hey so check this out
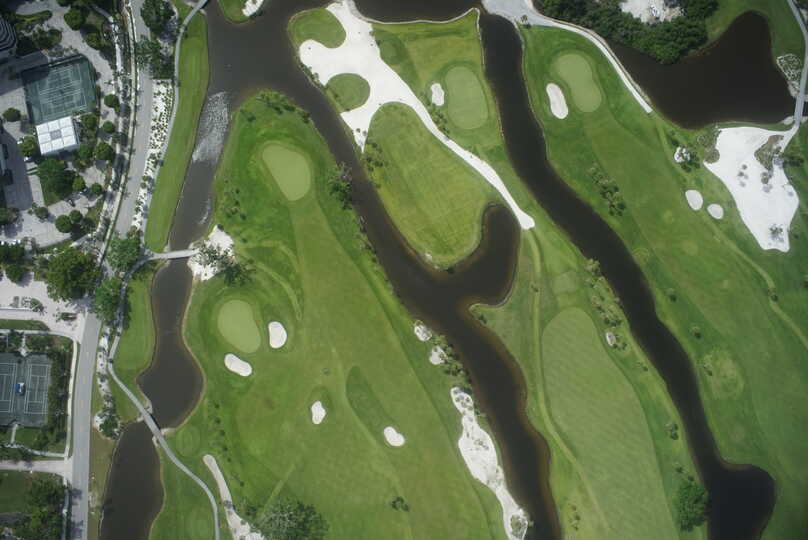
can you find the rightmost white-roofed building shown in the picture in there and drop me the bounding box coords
[36,118,82,155]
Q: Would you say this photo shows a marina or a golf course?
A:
golf course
